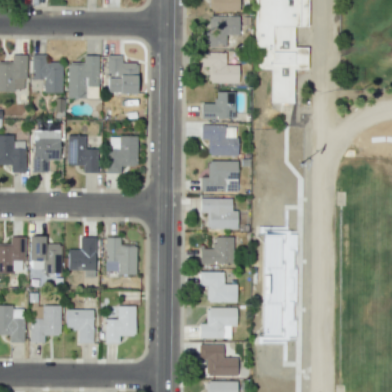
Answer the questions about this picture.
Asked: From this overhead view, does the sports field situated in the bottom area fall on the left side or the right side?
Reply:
right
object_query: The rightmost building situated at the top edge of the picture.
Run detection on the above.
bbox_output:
[256,0,310,104]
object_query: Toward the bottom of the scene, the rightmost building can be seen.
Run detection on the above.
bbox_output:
[257,226,298,344]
